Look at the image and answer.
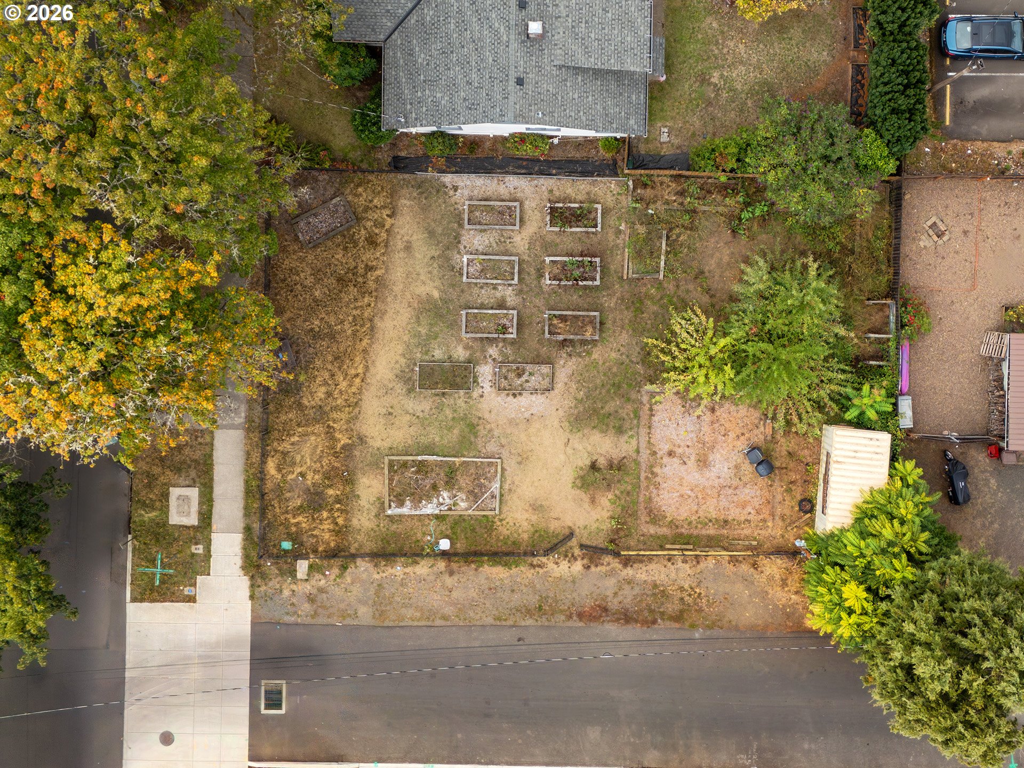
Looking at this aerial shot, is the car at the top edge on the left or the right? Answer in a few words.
right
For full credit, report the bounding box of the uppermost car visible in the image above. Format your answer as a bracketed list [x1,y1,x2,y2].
[938,10,1024,61]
